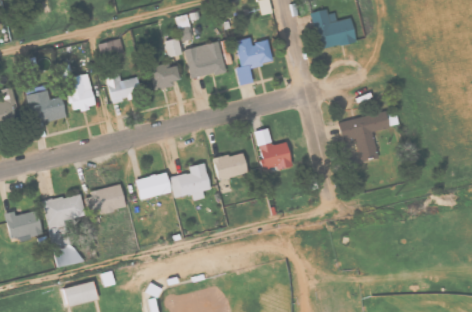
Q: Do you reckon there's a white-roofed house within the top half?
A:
Yes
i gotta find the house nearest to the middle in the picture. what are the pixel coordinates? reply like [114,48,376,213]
[212,152,248,180]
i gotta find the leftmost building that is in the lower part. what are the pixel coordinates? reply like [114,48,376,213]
[4,211,41,240]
